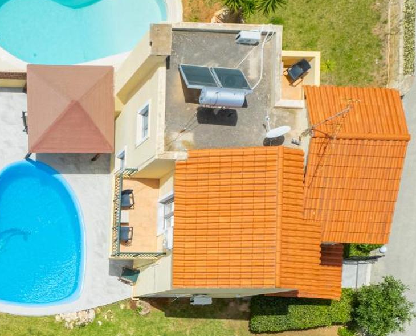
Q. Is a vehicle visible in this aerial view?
No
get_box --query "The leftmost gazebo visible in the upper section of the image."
[23,63,115,161]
